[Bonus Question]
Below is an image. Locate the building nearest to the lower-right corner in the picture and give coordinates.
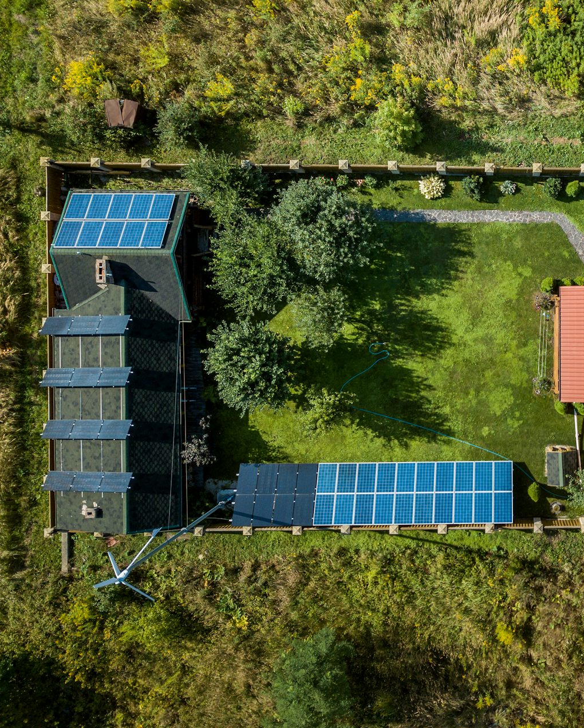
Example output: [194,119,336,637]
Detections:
[548,447,576,489]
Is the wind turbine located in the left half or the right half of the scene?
left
